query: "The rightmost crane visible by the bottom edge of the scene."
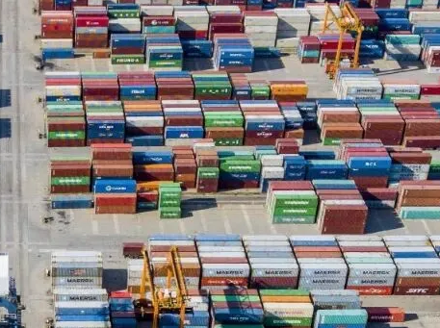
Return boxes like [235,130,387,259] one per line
[137,243,196,328]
